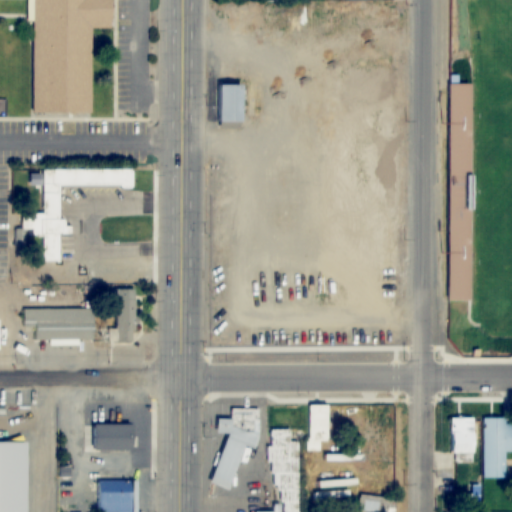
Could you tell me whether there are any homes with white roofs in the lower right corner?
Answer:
Yes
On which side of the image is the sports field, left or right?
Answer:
right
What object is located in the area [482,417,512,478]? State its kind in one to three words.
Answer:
house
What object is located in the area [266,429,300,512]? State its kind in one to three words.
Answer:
building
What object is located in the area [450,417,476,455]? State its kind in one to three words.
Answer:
house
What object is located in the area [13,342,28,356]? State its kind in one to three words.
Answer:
vehicle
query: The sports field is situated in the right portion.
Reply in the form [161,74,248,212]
[450,0,512,357]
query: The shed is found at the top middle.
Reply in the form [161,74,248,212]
[218,84,246,122]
